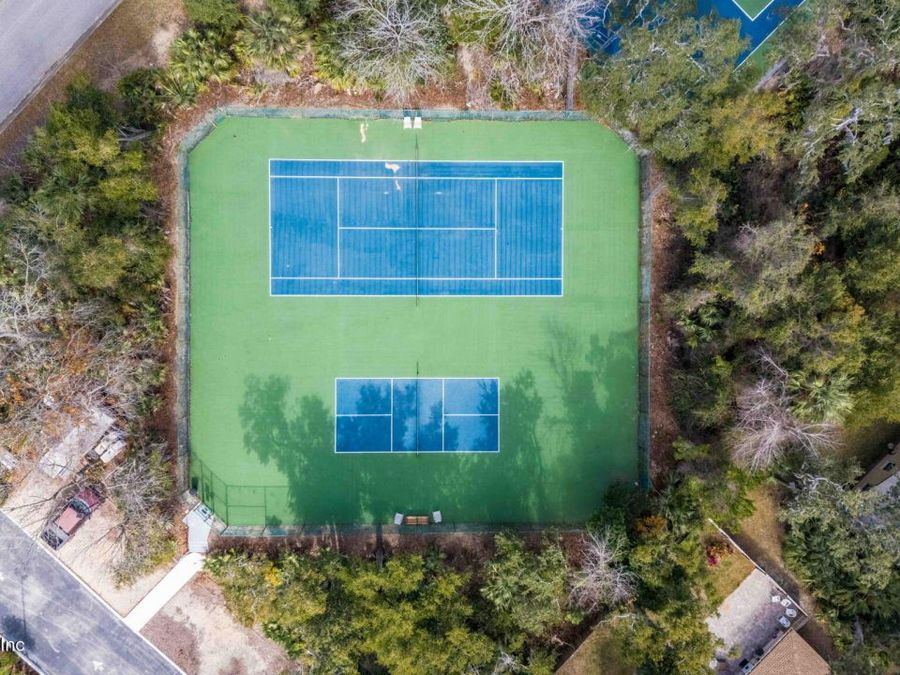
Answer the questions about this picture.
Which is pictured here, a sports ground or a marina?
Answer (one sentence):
This looks like a sports ground.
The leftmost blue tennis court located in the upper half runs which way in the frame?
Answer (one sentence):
What the image shows is the leftmost blue tennis court located in the upper half lying horizontally.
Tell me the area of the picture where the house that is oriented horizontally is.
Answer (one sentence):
You can find the house that is oriented horizontally in the bottom right area of the picture.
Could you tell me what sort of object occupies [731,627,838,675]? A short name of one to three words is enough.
house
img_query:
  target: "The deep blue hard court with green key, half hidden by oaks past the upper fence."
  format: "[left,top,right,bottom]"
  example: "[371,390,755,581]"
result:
[552,0,834,130]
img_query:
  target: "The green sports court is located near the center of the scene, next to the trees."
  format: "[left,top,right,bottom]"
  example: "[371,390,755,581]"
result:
[189,118,639,526]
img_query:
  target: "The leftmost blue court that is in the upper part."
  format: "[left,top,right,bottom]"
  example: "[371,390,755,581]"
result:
[269,159,563,296]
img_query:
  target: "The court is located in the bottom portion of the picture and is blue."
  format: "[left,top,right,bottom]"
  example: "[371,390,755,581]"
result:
[336,378,499,453]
